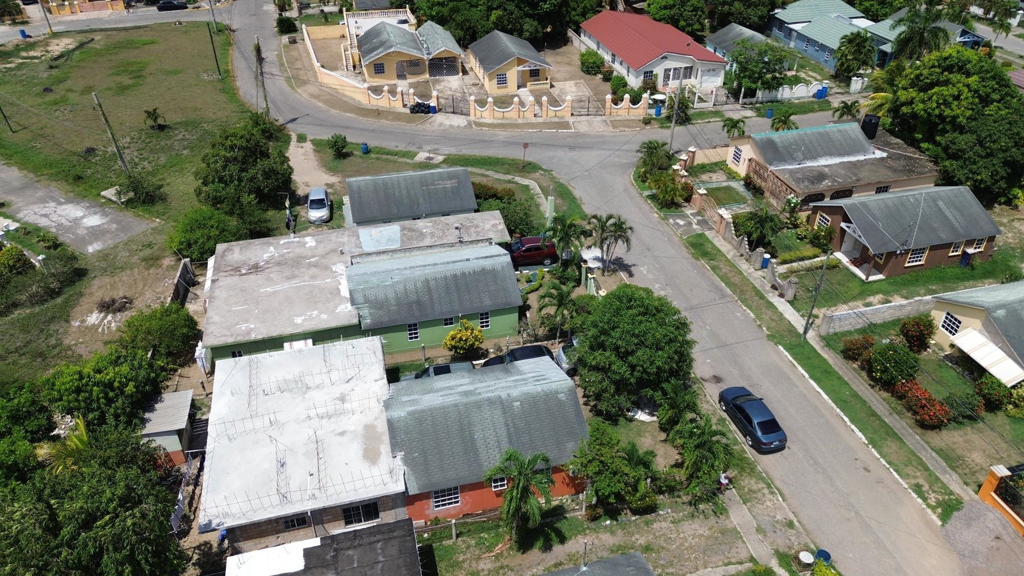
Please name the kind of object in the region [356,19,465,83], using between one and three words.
house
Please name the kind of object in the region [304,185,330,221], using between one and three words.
car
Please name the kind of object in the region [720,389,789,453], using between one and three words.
car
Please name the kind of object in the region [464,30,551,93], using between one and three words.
house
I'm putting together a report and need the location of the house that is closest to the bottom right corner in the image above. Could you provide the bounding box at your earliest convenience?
[930,281,1024,394]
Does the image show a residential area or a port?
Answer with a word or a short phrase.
residential area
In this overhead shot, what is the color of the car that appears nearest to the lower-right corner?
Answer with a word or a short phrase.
blue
